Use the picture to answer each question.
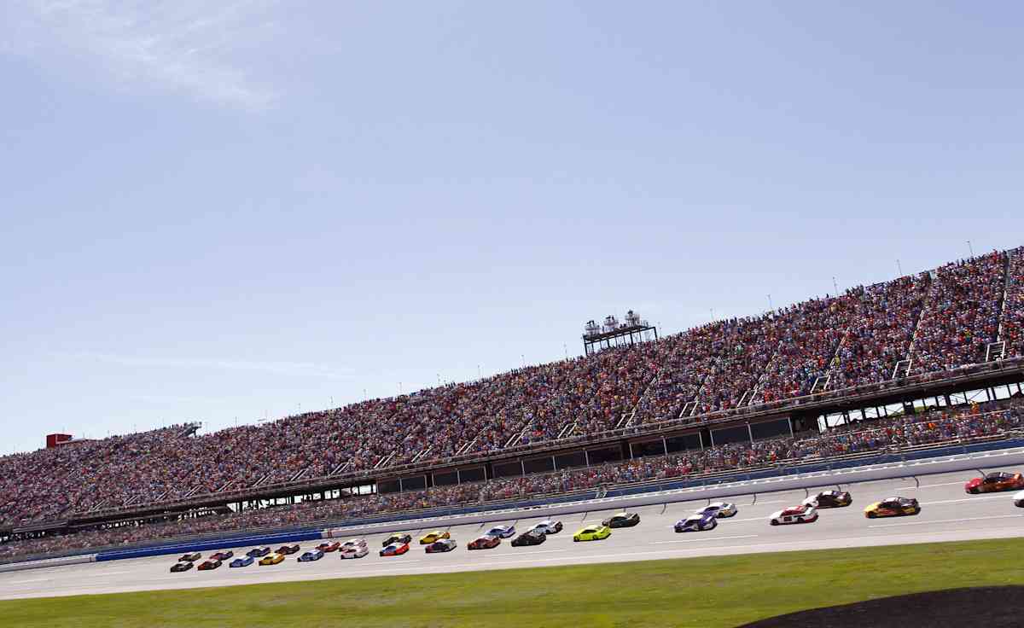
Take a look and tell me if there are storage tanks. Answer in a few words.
No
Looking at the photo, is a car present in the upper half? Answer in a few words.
No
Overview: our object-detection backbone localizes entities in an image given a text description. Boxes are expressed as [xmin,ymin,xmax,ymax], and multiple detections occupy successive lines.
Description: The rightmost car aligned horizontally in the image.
[968,472,1024,493]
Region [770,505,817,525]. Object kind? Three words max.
car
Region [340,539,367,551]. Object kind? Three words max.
vehicle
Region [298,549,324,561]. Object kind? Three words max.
vehicle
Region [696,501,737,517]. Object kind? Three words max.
car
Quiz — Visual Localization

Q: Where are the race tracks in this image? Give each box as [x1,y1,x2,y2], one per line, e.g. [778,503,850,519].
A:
[0,464,1024,598]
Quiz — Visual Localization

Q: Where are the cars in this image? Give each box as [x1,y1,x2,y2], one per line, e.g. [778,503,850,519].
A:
[171,562,193,572]
[298,549,324,561]
[247,546,270,557]
[425,539,456,553]
[381,543,409,556]
[383,533,411,546]
[230,556,253,567]
[259,553,284,565]
[603,513,640,528]
[804,489,851,508]
[275,543,300,554]
[675,515,717,532]
[512,532,546,547]
[484,525,517,537]
[341,546,369,559]
[574,525,611,541]
[529,519,563,533]
[179,552,200,562]
[199,560,221,570]
[210,551,233,561]
[866,498,919,518]
[770,505,817,525]
[468,535,501,550]
[340,539,367,551]
[315,540,341,552]
[696,501,737,517]
[968,472,1024,493]
[421,530,450,544]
